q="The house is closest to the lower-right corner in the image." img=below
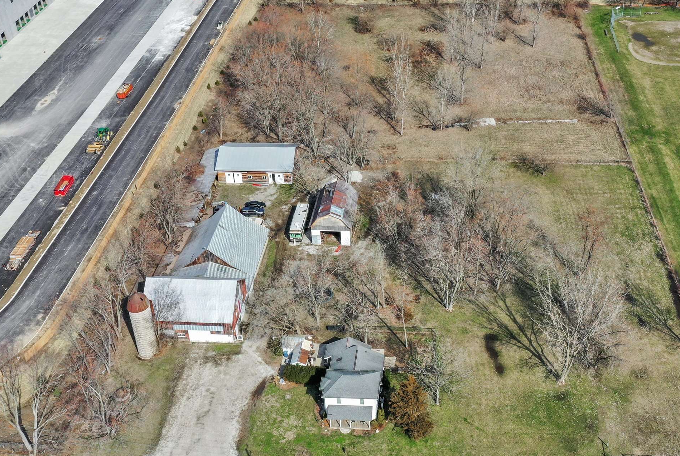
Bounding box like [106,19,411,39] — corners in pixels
[319,341,385,437]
